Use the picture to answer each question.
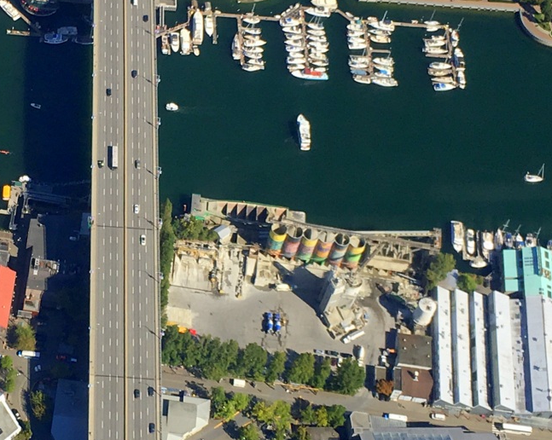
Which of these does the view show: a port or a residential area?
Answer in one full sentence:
The area seen from above is a port.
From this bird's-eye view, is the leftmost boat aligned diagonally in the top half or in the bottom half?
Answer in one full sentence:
It is in the top half that the leftmost boat aligned diagonally appears.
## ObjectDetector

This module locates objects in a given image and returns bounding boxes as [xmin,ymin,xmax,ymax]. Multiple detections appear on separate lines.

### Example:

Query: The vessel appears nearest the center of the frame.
[296,111,312,152]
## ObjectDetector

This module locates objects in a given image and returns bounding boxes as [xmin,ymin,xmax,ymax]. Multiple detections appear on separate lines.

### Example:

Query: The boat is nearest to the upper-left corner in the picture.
[0,0,23,21]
